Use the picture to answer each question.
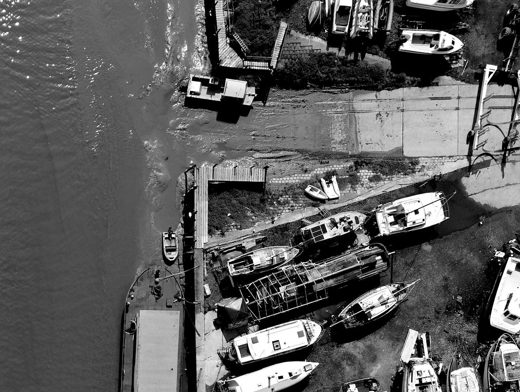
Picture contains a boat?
Yes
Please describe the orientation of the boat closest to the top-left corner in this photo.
from left to right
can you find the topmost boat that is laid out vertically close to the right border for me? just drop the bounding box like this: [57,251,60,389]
[485,259,520,336]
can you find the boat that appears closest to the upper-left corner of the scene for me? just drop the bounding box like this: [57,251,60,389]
[182,74,256,109]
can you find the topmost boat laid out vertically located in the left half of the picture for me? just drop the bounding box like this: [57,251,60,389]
[162,228,178,262]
